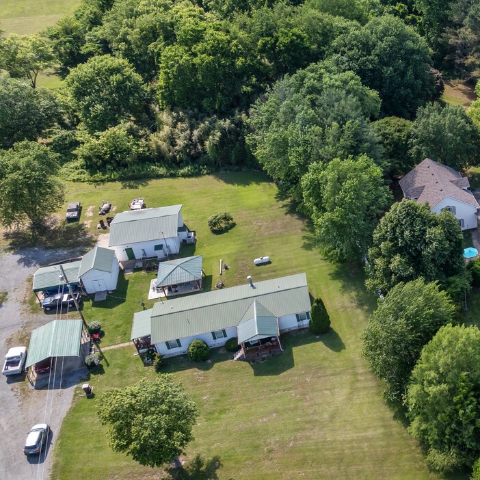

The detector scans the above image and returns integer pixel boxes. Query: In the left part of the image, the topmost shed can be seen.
[108,204,192,273]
